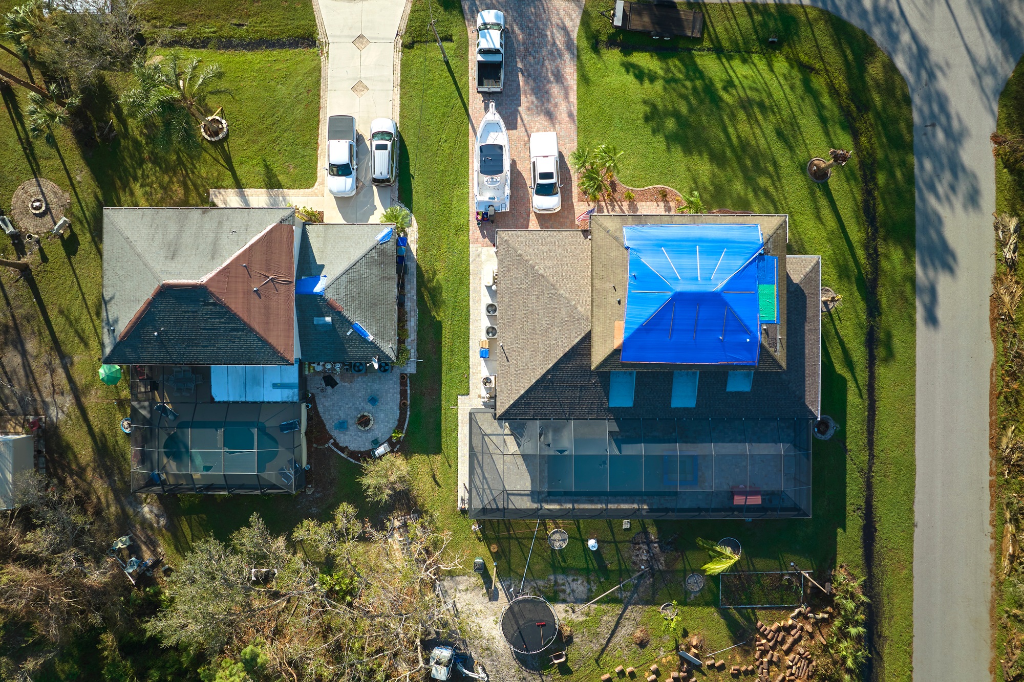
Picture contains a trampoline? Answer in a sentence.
Yes, the picture does show a trampoline.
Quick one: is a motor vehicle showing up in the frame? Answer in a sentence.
Yes, I can see a motor vehicle in this picture.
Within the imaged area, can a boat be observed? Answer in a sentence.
Yes, a boat can be made out from above.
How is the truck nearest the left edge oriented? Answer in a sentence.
The truck nearest the left edge is oriented from top to bottom.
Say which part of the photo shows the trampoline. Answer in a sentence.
The trampoline is located in the bottom region of the scene.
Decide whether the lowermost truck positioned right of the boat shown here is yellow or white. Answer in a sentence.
The lowermost truck positioned right of the boat looks white in the image.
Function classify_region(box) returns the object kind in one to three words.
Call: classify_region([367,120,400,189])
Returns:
car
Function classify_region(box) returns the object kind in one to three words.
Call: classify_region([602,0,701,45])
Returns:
trailer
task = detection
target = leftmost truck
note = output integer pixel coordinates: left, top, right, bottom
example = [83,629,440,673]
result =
[324,116,359,199]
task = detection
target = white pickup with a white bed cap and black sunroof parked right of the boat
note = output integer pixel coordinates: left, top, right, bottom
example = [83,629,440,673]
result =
[529,132,563,215]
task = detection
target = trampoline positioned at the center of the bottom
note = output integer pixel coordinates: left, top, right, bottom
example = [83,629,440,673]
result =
[502,593,560,659]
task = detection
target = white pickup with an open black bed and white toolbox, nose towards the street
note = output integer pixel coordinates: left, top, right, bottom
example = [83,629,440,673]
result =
[473,11,507,96]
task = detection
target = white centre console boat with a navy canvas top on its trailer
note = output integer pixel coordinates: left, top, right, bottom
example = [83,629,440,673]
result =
[474,100,510,223]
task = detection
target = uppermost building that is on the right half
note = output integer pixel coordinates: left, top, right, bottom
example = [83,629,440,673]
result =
[494,212,823,421]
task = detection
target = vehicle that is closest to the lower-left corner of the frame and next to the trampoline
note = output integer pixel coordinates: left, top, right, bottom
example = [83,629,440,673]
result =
[429,629,486,682]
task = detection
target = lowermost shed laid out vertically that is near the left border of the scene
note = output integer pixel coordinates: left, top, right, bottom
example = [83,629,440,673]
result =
[0,435,33,510]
